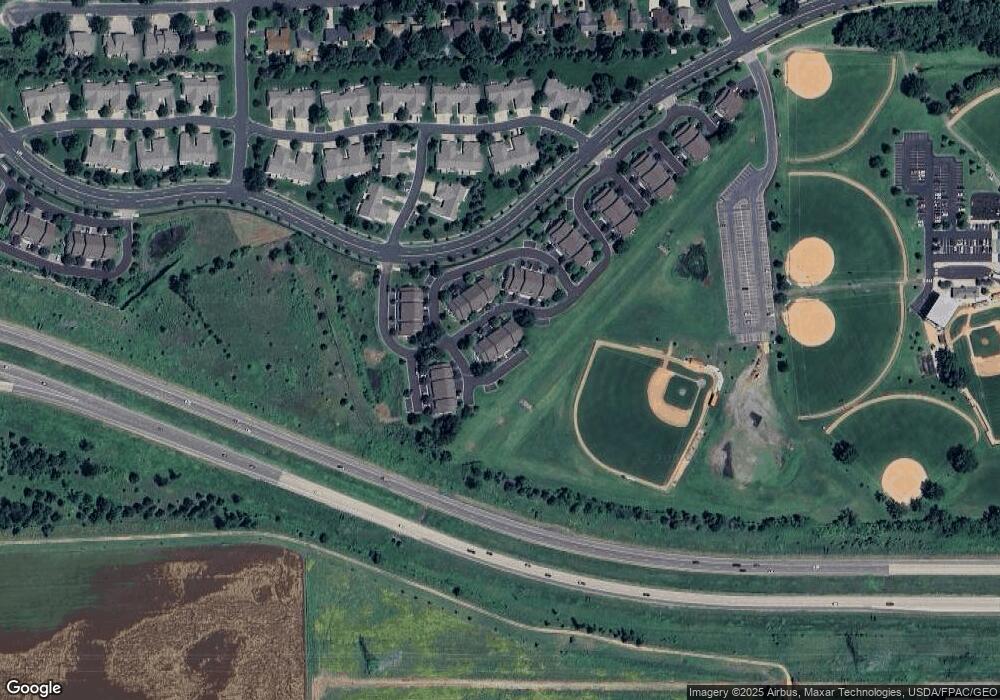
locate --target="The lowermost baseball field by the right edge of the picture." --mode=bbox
[824,394,984,510]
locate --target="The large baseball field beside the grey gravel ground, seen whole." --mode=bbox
[573,338,724,490]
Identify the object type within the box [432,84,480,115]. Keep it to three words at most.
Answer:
house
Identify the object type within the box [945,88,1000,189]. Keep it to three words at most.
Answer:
baseball field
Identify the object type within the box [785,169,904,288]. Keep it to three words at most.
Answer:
baseball field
